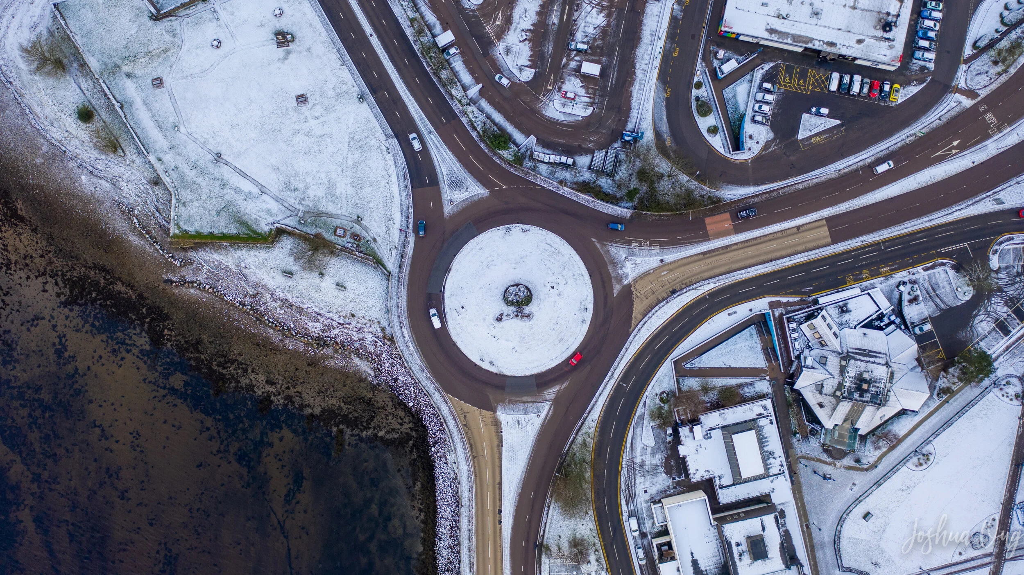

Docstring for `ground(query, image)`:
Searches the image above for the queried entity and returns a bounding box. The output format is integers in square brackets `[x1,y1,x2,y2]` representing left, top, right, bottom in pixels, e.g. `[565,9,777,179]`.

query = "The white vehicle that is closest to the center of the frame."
[429,307,442,329]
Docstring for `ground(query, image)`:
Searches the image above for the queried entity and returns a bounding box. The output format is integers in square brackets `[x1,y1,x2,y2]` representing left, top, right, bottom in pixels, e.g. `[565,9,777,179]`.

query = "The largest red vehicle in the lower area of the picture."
[570,351,583,366]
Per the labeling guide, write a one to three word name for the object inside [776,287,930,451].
building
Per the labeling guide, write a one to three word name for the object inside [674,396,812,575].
building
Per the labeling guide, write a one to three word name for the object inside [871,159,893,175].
vehicle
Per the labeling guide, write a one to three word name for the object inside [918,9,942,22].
vehicle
